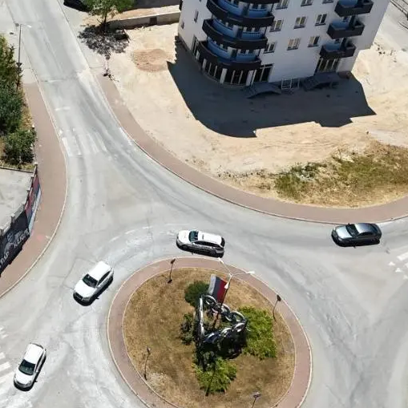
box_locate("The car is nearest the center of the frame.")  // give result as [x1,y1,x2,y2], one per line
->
[176,229,227,258]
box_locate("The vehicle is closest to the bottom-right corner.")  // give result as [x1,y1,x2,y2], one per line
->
[330,221,387,246]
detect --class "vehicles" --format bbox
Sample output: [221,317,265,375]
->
[74,259,115,303]
[330,221,387,246]
[176,229,227,258]
[64,0,95,9]
[12,339,49,391]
